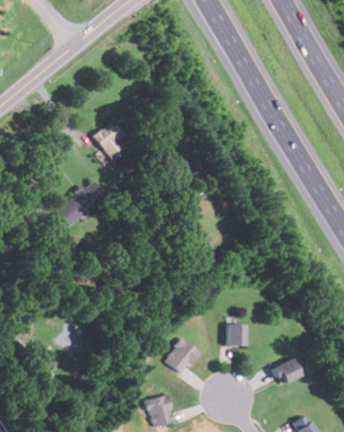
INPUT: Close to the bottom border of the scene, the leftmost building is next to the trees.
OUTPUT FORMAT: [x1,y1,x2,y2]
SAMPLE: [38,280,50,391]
[144,390,174,428]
